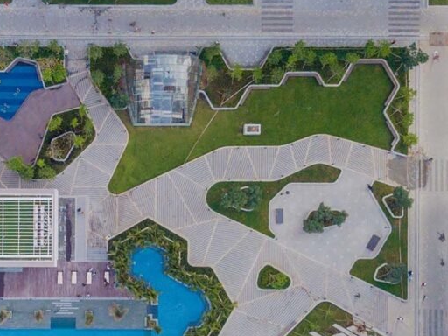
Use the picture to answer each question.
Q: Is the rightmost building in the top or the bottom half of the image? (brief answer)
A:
top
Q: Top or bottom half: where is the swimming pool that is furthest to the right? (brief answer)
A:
bottom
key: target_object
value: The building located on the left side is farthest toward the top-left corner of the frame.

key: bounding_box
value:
[126,54,201,125]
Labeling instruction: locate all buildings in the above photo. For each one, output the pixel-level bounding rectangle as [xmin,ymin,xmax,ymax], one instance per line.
[0,189,58,271]
[126,54,201,125]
